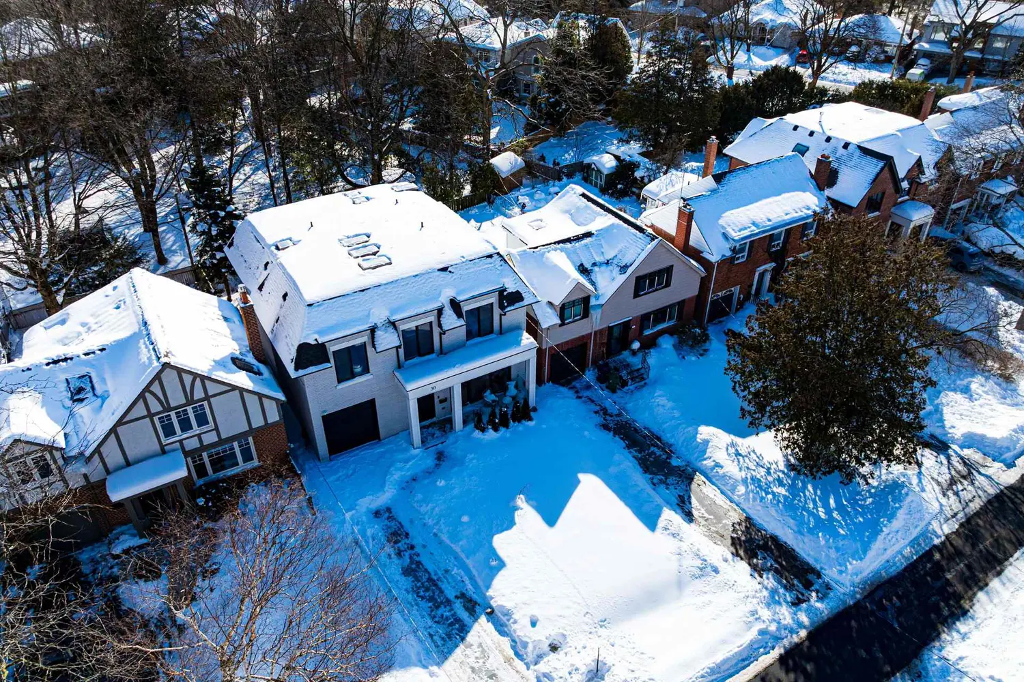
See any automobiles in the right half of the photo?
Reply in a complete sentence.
Yes, there is an automobile in the right half of the photo.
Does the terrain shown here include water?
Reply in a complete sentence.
No, there's no water in this view.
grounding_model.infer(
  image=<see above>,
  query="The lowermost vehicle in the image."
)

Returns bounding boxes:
[907,227,986,270]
